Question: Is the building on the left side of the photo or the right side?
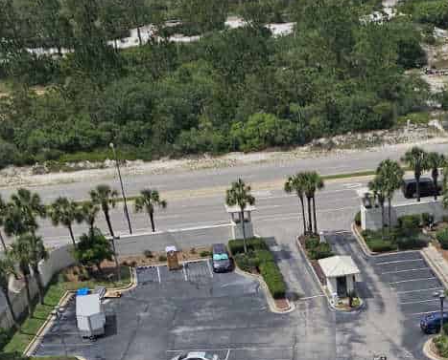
right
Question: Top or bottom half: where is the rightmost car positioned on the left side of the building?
bottom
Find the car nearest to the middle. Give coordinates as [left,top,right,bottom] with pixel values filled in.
[210,247,232,270]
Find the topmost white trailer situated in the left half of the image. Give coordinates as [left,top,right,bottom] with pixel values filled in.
[77,293,110,341]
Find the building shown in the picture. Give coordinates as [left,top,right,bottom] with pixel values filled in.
[317,256,362,301]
